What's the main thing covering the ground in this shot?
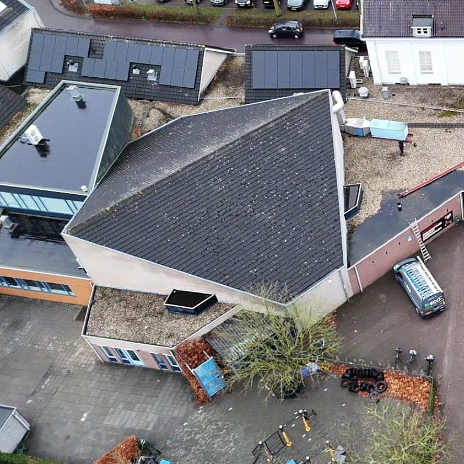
buildings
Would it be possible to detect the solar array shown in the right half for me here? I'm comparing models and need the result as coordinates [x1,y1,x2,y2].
[249,51,340,88]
